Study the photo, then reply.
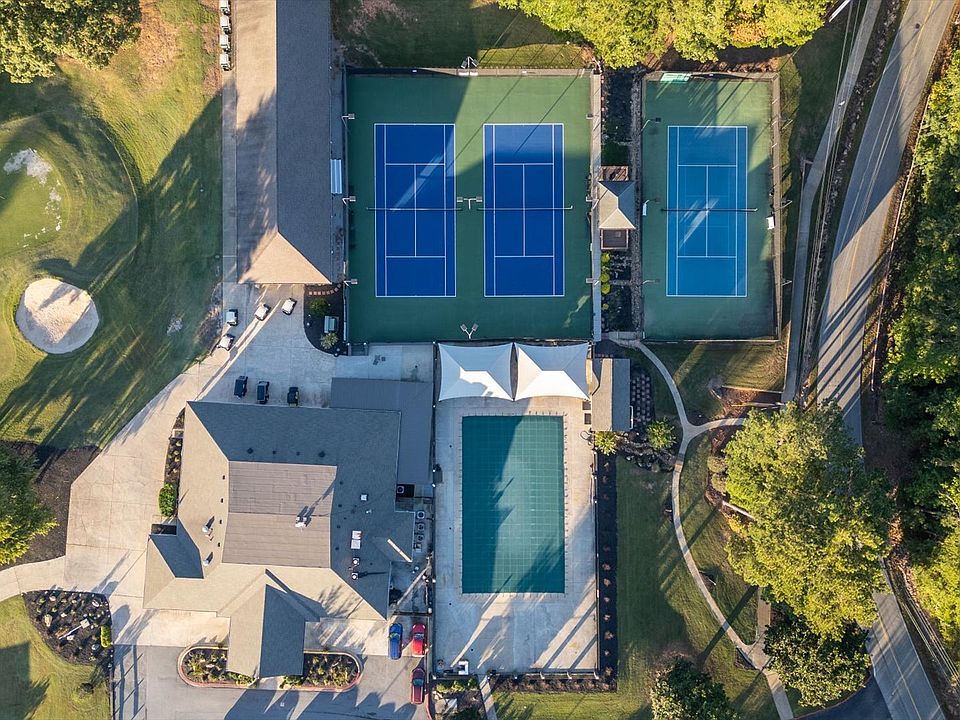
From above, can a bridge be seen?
No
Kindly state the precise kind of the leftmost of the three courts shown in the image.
tennis court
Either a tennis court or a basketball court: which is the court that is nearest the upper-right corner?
tennis court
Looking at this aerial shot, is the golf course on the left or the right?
left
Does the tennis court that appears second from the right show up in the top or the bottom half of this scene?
top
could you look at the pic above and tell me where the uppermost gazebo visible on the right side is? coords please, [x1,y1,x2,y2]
[598,164,636,249]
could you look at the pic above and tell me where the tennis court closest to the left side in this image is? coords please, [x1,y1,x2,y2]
[346,75,469,342]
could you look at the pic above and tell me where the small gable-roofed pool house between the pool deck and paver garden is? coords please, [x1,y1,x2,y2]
[591,358,631,431]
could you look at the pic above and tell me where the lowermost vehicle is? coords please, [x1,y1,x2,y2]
[410,669,425,706]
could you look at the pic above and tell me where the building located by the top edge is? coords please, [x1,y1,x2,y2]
[237,0,333,283]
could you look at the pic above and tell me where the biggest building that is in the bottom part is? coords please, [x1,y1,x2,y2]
[144,402,415,679]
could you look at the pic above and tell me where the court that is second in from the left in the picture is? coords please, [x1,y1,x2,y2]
[469,75,593,342]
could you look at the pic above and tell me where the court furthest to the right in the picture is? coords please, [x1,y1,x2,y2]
[645,80,775,338]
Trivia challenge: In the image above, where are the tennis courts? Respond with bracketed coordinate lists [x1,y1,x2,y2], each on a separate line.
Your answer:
[645,80,775,338]
[469,75,593,342]
[346,75,469,342]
